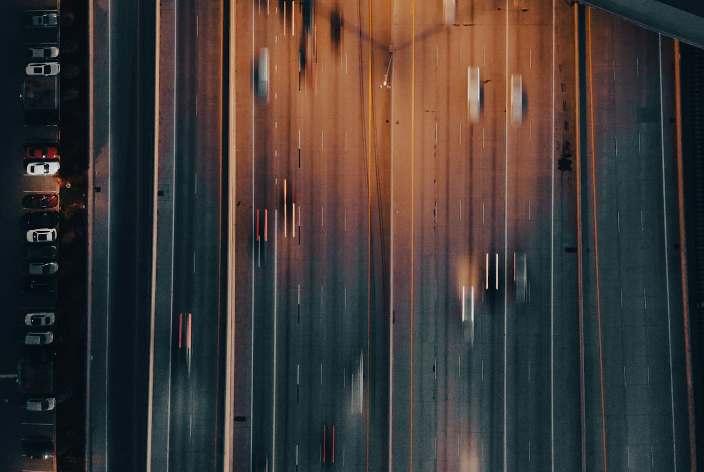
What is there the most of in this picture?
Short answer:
paved ground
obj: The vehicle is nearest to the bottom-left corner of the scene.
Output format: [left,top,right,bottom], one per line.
[21,440,55,457]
